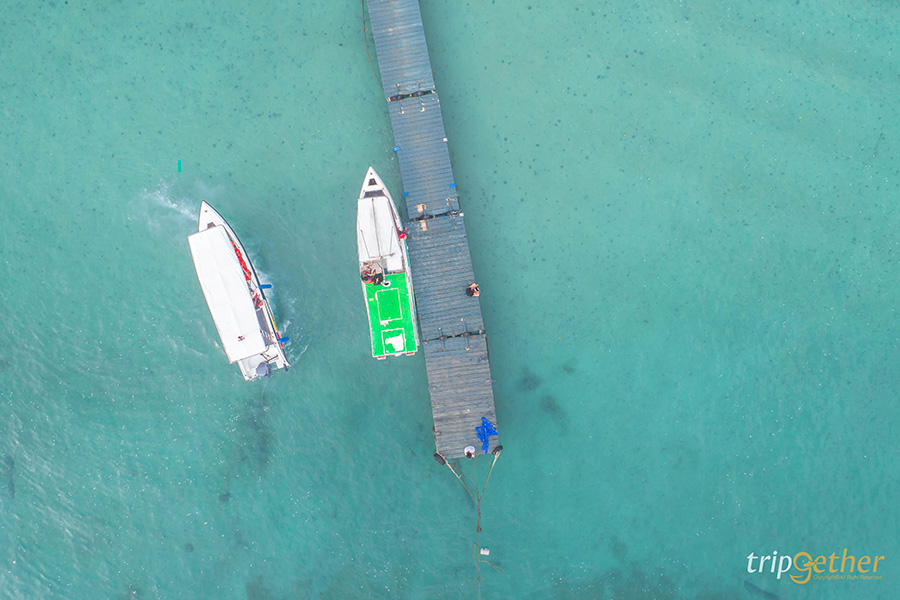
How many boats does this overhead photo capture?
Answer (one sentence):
In total, there are 2 boats in the scene.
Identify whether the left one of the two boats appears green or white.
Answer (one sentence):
The left one of the two boats looks white in the image.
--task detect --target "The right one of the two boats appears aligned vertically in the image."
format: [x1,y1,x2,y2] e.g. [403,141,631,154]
[356,166,419,362]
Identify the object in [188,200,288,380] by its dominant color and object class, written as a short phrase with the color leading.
white boat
